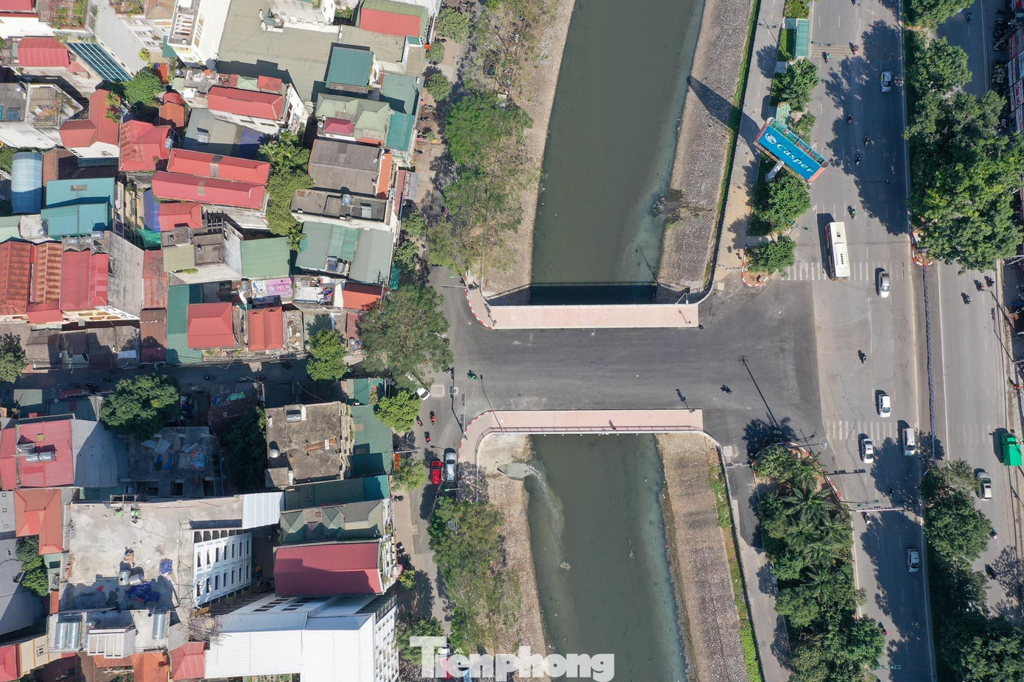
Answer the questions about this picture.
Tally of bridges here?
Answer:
1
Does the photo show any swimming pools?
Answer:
No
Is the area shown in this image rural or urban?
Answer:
urban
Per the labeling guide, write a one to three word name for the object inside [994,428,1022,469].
truck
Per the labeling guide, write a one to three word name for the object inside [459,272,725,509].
bridge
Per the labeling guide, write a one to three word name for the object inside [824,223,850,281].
bus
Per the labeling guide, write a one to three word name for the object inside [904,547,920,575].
car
